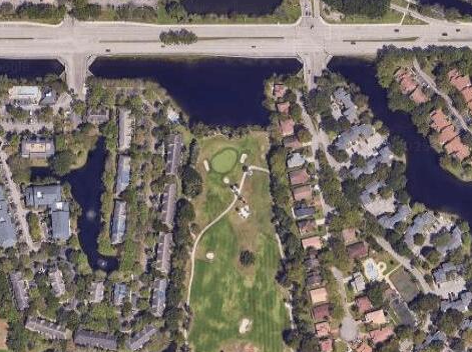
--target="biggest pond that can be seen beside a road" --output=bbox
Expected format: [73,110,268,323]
[31,137,118,273]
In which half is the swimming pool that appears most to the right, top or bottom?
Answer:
bottom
